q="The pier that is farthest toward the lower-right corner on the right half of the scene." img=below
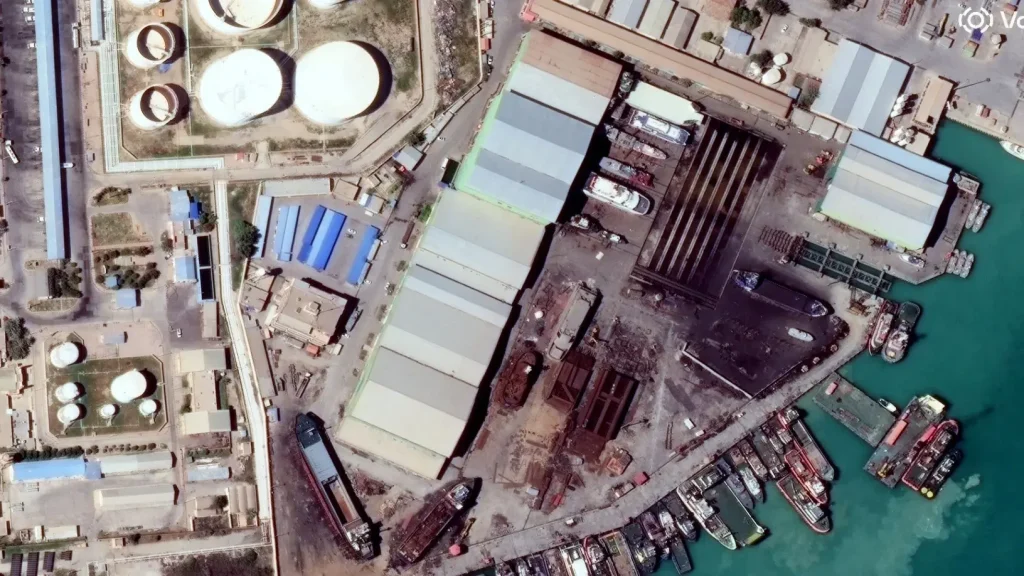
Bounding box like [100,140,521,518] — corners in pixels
[811,372,897,448]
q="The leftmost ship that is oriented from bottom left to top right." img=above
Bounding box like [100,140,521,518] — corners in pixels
[391,479,474,564]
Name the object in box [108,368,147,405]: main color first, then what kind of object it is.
white storage tank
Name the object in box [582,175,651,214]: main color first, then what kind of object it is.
white vessel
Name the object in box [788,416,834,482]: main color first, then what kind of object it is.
gray ship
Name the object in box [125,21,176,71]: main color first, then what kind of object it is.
white storage tank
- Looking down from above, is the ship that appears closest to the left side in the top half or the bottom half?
bottom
